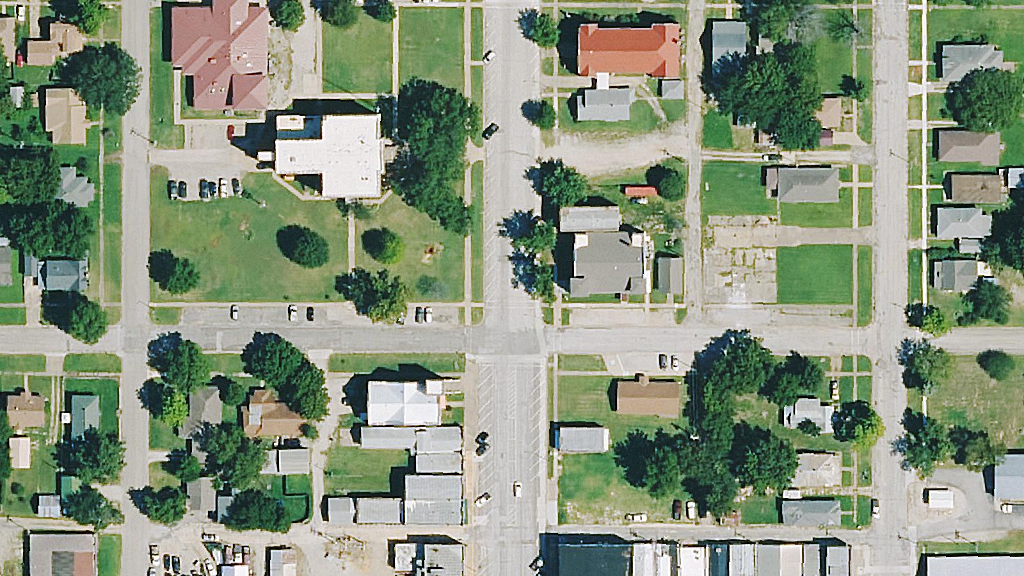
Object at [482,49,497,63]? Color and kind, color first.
white car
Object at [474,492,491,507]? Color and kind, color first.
white vehicle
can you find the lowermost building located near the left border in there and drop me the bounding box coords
[29,533,95,576]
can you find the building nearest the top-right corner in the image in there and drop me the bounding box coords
[943,44,1015,80]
